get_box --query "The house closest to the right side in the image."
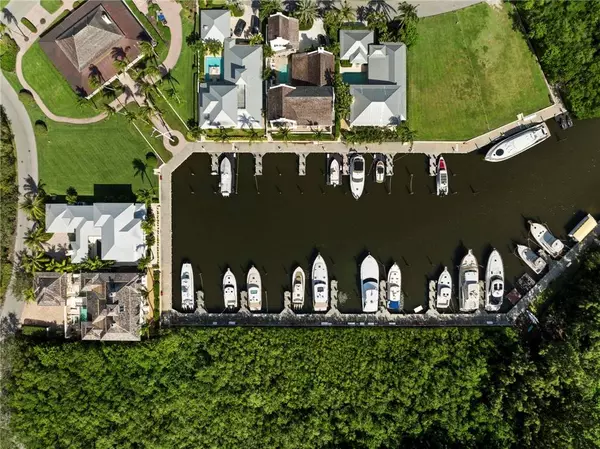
[340,30,407,128]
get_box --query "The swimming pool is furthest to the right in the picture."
[340,72,368,85]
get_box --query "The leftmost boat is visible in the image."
[180,263,199,308]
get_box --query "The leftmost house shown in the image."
[33,273,71,307]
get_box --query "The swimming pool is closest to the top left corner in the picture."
[204,55,223,85]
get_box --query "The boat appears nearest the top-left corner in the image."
[218,157,236,198]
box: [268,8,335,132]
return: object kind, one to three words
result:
house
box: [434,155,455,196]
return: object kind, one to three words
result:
boat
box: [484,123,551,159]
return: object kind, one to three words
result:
boat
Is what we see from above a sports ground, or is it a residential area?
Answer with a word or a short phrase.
residential area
